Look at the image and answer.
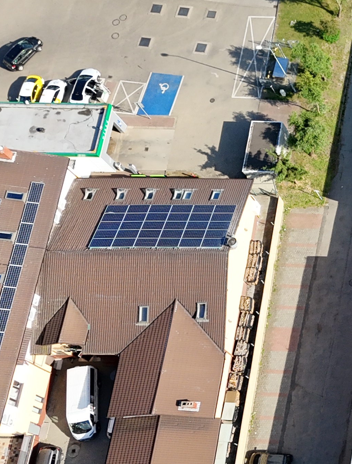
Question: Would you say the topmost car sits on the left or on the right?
left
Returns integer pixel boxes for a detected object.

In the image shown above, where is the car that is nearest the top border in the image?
[0,36,44,74]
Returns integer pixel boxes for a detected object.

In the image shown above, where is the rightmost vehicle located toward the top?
[69,72,101,103]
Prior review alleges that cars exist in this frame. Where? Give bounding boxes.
[69,72,101,103]
[102,390,123,439]
[40,79,69,102]
[35,447,63,464]
[246,449,298,464]
[14,74,45,102]
[0,36,44,74]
